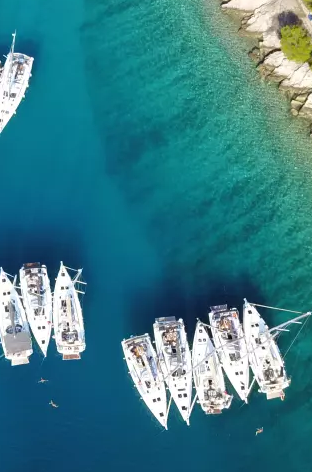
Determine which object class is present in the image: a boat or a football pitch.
boat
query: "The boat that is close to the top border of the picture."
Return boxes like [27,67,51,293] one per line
[0,22,33,137]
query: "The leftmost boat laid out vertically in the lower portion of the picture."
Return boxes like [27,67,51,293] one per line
[0,266,32,365]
